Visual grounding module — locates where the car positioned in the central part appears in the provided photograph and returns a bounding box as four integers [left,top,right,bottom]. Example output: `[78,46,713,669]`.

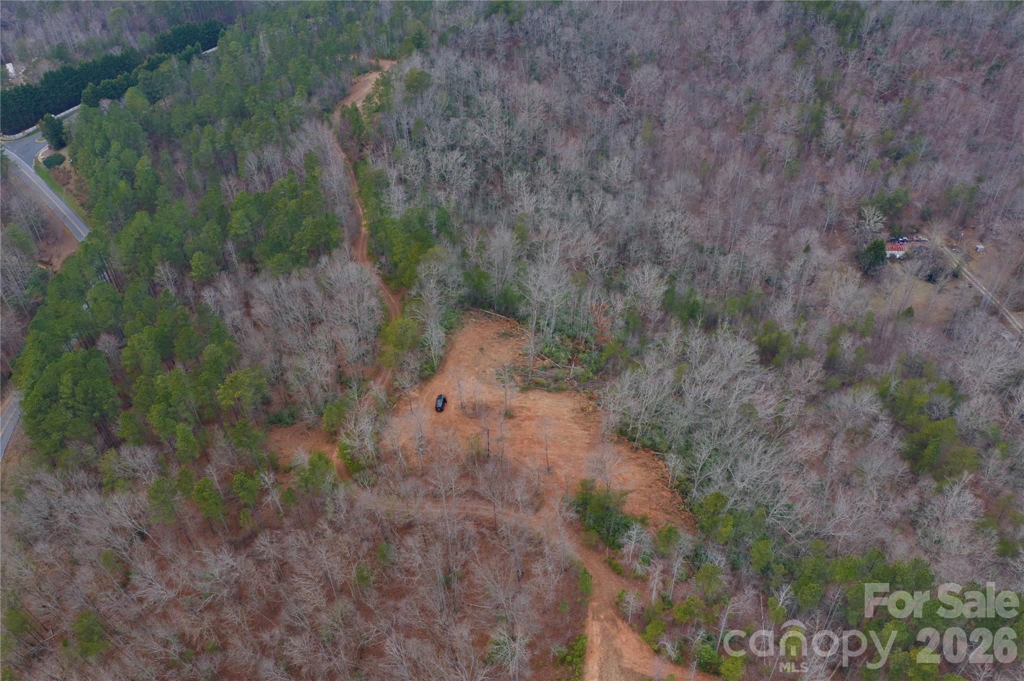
[435,395,449,412]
